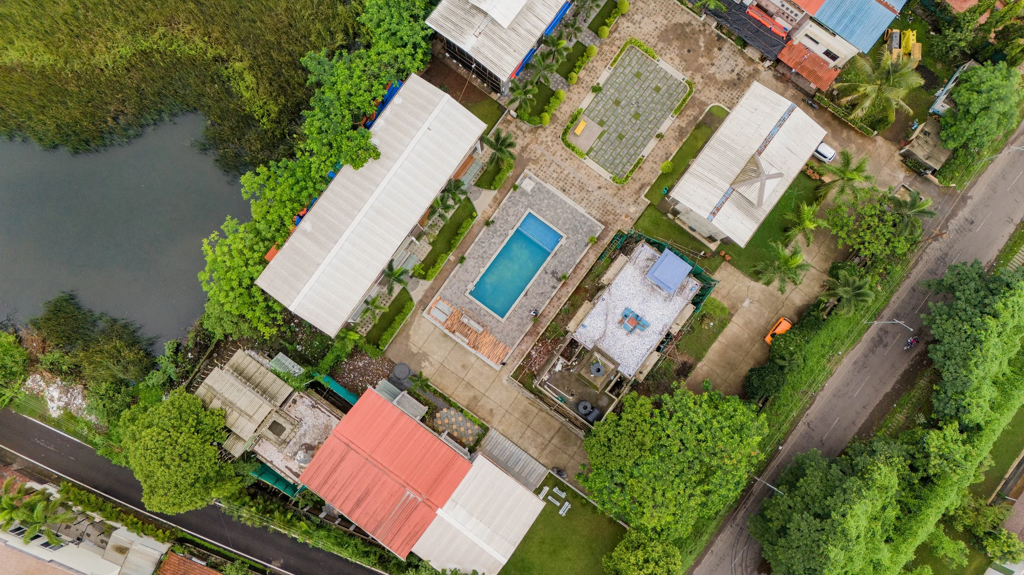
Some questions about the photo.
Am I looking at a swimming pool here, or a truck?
swimming pool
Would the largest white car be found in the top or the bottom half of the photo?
top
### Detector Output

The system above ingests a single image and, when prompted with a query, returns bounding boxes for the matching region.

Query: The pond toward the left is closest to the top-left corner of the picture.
[0,11,361,366]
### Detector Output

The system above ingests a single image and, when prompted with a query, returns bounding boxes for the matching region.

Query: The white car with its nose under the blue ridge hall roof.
[813,140,837,163]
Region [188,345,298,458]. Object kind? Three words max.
shed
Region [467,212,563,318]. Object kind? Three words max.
swimming pool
